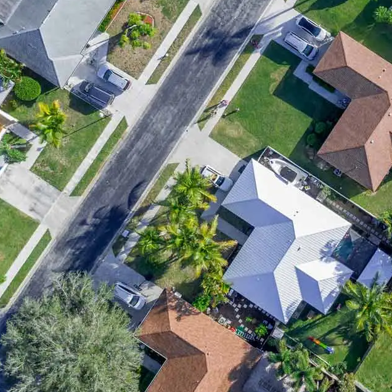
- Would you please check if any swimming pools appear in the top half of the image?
No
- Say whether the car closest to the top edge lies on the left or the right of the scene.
right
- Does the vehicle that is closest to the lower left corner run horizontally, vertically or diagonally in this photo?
diagonally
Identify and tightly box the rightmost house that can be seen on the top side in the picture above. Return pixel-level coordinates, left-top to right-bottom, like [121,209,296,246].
[313,30,392,192]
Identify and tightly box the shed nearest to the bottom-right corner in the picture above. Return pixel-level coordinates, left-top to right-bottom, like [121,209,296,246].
[356,247,392,289]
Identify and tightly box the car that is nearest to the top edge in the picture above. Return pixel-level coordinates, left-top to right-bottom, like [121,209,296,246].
[295,13,331,45]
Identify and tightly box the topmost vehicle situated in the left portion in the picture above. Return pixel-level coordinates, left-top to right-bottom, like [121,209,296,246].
[96,62,133,91]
